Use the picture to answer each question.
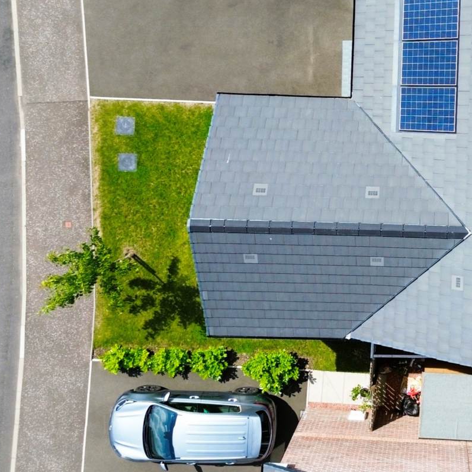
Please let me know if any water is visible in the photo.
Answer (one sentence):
No, the picture contains no water.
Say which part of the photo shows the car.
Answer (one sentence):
Look in the bottom portion of the view to spot the car.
